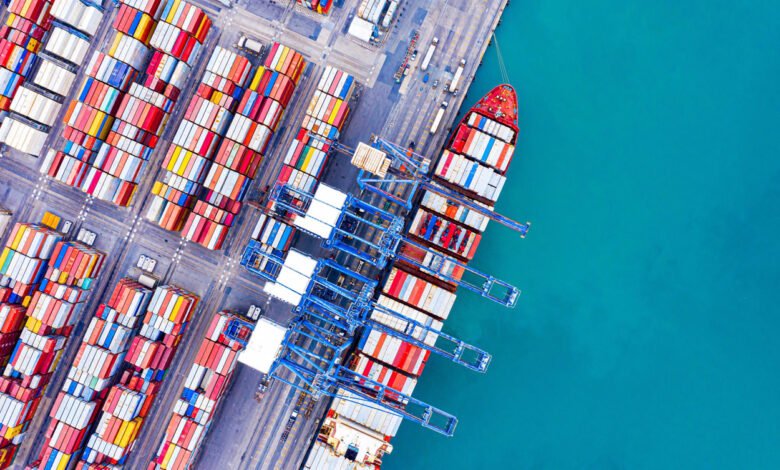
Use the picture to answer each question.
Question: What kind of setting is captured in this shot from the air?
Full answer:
This looks like a port.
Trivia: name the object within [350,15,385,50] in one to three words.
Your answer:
shed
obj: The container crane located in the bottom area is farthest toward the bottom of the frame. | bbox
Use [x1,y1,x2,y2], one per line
[209,312,463,438]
